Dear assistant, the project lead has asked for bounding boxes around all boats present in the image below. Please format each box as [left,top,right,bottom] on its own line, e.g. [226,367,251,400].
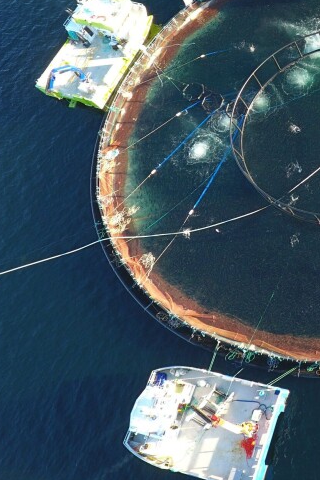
[31,0,162,111]
[119,367,298,480]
